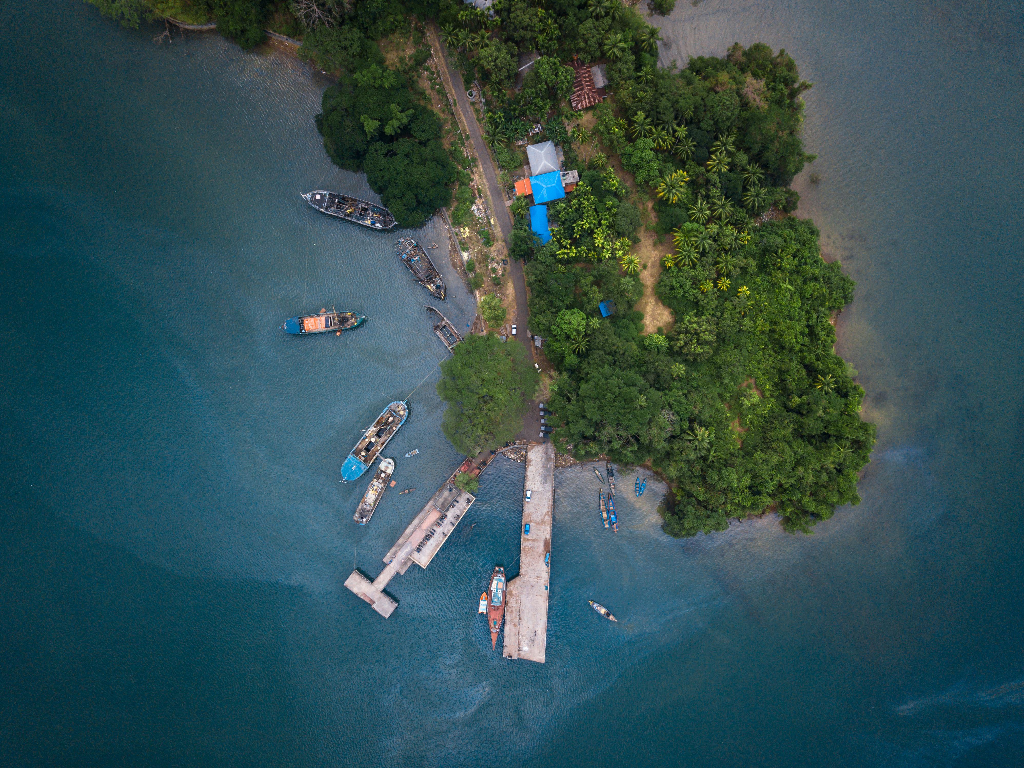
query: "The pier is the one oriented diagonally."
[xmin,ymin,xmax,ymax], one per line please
[344,482,475,618]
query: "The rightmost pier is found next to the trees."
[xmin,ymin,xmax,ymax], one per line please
[503,443,555,663]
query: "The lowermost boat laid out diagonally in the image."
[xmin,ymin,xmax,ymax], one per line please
[589,601,618,622]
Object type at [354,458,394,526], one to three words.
boat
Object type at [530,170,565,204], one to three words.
house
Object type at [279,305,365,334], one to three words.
boat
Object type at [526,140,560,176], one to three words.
house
